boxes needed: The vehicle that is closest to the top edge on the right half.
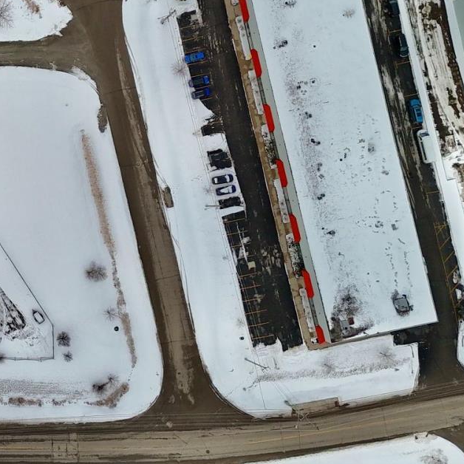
[387,0,402,16]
